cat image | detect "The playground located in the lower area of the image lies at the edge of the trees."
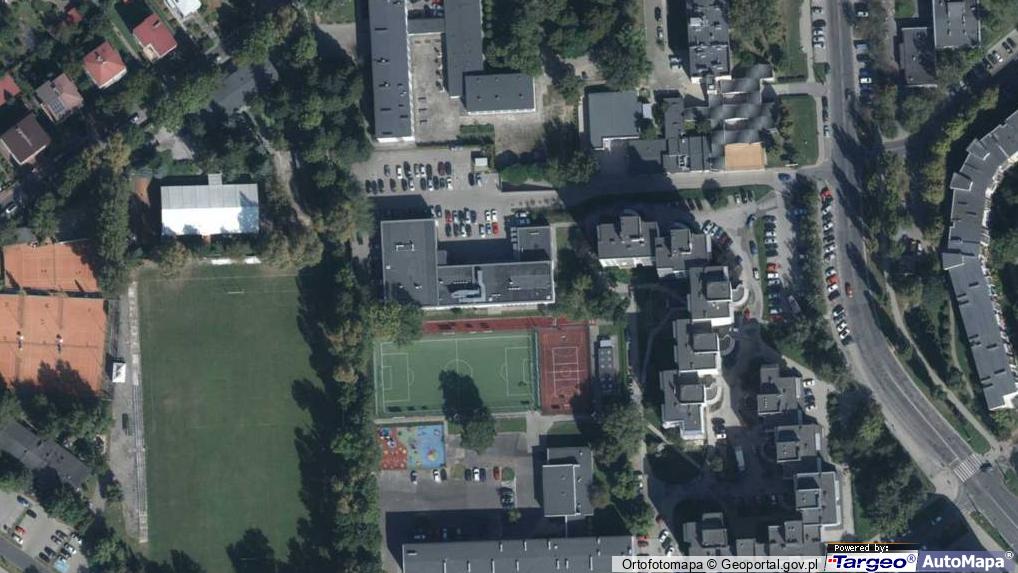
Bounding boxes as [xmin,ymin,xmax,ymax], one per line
[377,424,445,471]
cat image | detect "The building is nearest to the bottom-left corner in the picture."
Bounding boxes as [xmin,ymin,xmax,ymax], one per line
[0,418,89,489]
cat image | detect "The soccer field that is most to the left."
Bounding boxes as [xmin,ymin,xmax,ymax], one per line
[139,262,351,573]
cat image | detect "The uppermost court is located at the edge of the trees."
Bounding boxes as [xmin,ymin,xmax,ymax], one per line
[3,239,97,290]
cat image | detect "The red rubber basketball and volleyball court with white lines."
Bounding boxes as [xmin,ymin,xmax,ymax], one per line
[541,328,592,415]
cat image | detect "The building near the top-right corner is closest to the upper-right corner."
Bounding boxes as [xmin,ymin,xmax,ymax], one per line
[933,0,980,52]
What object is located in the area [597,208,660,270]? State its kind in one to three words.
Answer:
building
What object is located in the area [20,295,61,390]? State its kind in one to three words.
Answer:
tennis court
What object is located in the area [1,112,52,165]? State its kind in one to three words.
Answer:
house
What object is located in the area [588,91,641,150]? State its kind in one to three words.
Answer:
building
